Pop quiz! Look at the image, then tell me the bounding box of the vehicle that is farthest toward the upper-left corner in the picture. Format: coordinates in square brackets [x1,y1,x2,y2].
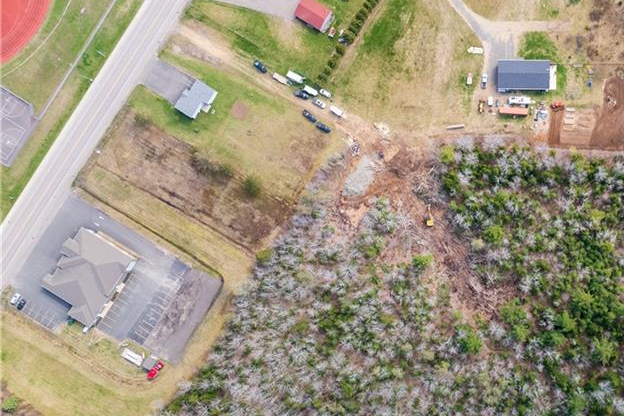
[252,60,269,74]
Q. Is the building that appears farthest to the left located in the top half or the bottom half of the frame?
bottom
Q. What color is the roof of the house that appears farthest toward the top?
red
